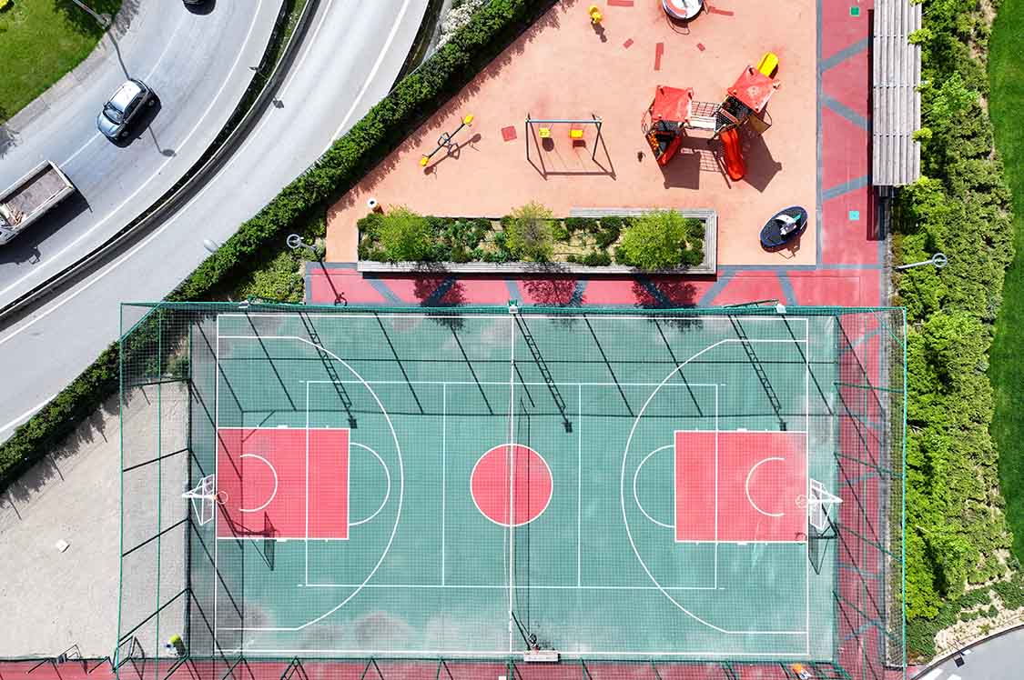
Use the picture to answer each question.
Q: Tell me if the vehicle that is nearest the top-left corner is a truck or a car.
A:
car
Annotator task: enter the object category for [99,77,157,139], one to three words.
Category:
car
